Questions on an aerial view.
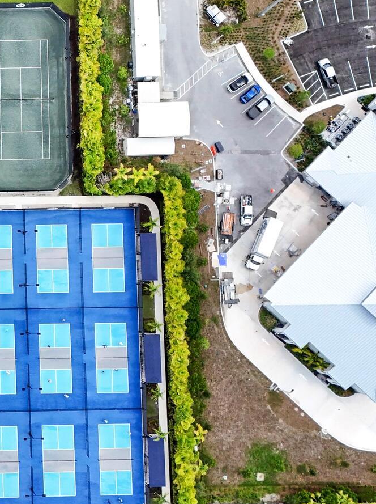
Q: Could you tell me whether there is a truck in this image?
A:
Yes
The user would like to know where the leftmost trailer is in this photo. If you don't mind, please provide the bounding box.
[129,0,172,82]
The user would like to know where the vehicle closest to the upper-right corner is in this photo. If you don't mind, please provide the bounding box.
[317,59,337,90]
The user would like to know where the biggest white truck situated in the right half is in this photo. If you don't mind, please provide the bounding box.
[245,210,283,272]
